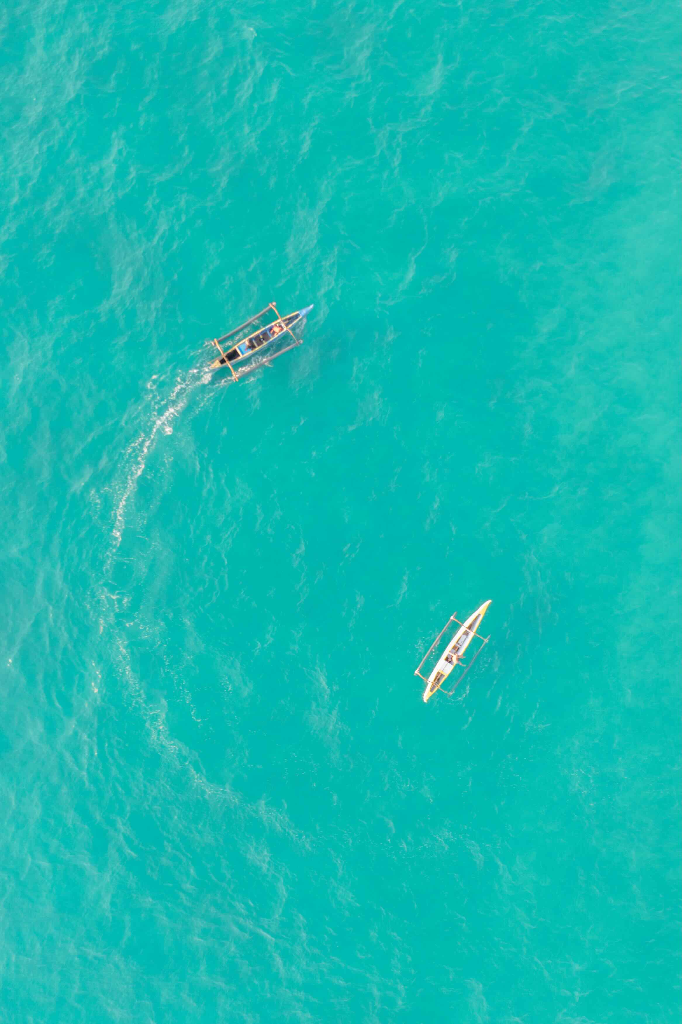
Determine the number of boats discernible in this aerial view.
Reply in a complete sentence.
I count 2 boats.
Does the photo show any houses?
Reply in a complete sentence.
No, I can't see a single house in this photo.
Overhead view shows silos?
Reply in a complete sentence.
No, the frame has no silo in it.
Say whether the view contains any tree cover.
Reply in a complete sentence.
No, no tree cover is visible.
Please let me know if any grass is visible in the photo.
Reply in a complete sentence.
No, there is no grass in the image.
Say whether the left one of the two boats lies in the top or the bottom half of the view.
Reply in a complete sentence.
The left one of the two boats sits in the top half of the picture.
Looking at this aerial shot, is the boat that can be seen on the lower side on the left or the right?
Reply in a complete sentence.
The boat that can be seen on the lower side appears in the right half of the scene.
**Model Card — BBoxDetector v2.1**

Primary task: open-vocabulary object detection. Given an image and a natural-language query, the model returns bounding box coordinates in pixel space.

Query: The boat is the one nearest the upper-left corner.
[208,302,314,382]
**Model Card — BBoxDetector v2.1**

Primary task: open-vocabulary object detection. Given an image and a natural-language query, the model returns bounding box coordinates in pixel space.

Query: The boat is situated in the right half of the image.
[414,600,492,702]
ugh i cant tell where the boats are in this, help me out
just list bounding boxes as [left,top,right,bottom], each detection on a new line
[208,302,314,382]
[414,600,492,702]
